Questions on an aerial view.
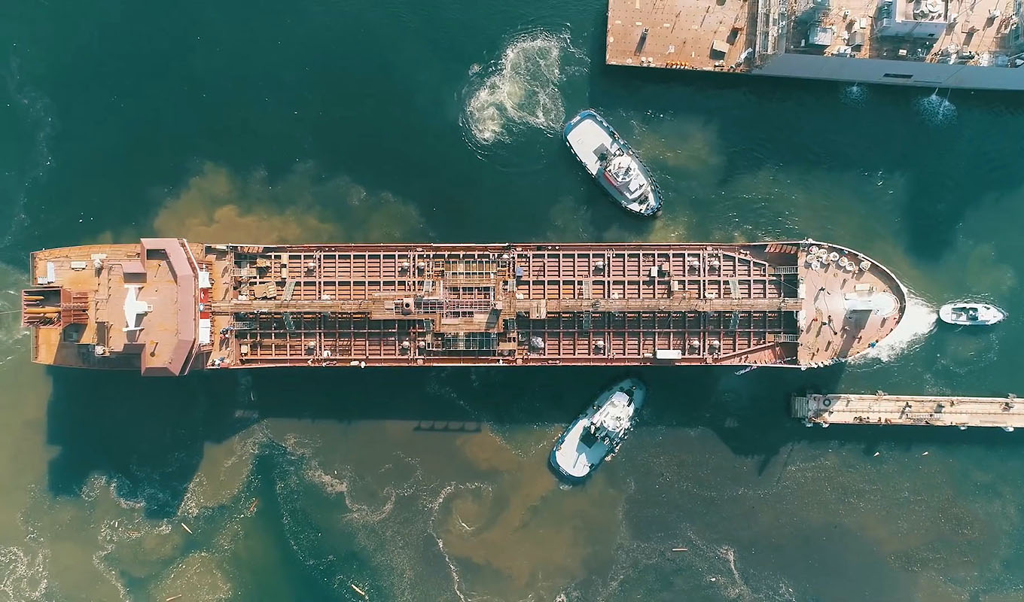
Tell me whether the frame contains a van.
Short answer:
No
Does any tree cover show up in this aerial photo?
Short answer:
No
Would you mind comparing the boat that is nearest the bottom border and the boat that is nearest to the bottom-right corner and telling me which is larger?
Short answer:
the boat that is nearest the bottom border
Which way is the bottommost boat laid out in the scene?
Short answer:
on a diagonal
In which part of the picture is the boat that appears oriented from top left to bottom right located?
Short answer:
top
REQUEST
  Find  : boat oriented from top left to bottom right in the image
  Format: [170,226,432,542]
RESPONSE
[562,109,662,214]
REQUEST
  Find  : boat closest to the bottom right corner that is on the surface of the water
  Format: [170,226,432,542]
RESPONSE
[938,301,1007,326]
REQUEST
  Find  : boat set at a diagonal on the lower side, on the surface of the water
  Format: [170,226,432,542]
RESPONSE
[547,378,647,486]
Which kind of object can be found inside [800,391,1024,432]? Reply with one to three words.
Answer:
pier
